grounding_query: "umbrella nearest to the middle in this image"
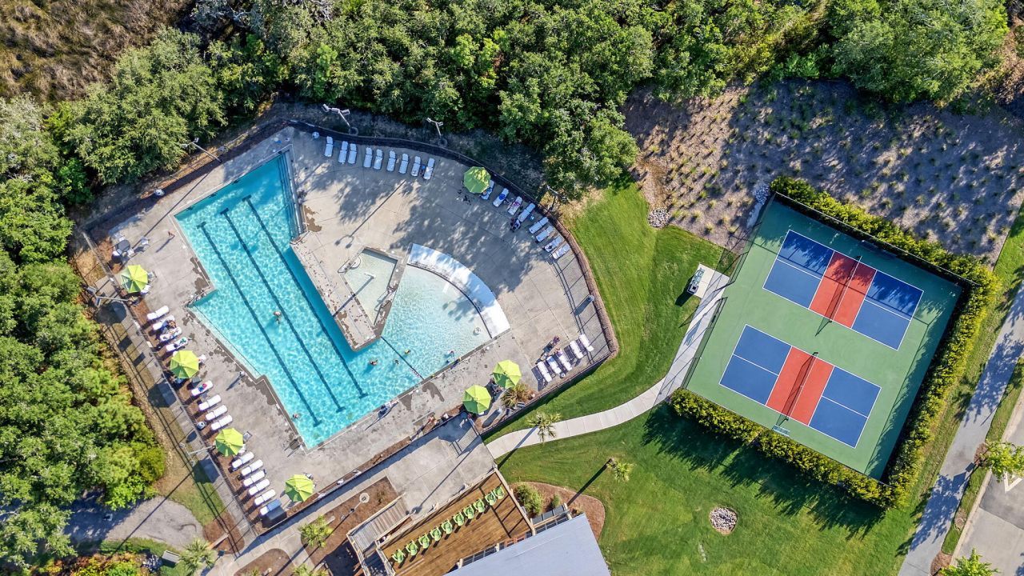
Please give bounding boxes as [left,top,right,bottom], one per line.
[493,360,521,388]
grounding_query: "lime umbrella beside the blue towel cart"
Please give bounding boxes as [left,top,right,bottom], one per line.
[287,473,315,502]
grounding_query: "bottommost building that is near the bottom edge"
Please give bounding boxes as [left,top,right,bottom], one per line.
[440,502,610,576]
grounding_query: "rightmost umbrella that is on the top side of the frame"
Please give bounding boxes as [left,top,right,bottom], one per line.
[463,166,492,195]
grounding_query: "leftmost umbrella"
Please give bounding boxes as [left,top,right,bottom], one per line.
[121,264,151,293]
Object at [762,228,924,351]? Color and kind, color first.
blue sports court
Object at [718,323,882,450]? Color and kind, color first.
blue sports court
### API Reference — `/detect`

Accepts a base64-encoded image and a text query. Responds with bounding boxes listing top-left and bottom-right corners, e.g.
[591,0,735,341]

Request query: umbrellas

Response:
[216,426,246,455]
[121,264,151,293]
[462,384,492,413]
[463,166,492,195]
[493,360,521,388]
[171,348,200,378]
[287,473,315,502]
